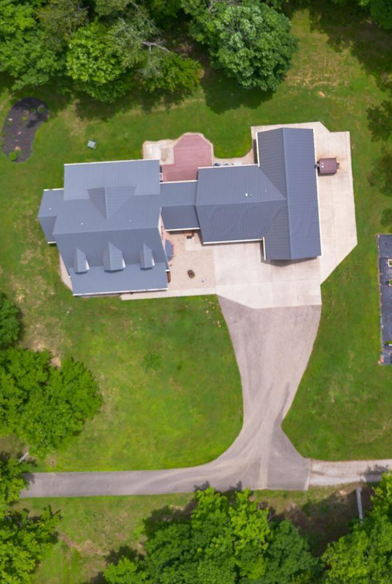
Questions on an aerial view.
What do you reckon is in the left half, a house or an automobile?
house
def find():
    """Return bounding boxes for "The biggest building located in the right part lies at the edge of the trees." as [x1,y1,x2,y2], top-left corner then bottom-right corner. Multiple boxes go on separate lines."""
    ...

[196,127,322,260]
